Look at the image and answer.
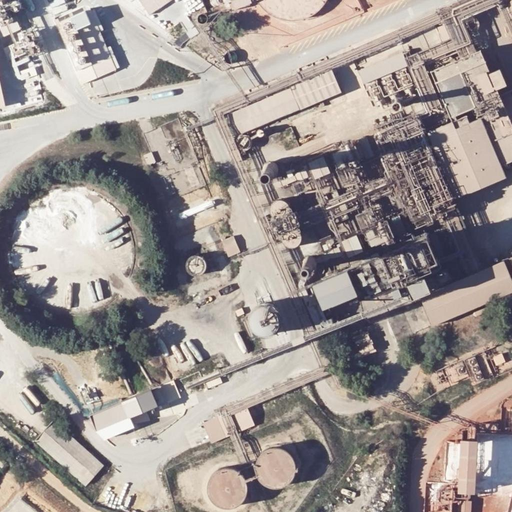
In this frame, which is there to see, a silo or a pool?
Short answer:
silo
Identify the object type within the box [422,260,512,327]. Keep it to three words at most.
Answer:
shed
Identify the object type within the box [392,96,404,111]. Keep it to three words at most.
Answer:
chimney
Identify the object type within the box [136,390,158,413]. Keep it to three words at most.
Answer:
building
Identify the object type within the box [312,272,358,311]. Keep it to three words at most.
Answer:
building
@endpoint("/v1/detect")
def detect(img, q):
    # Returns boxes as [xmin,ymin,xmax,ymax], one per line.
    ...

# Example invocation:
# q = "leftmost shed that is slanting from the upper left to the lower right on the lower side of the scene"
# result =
[37,424,104,486]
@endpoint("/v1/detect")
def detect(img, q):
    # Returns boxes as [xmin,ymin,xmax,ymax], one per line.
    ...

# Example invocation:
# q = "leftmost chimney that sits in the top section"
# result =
[260,159,280,184]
